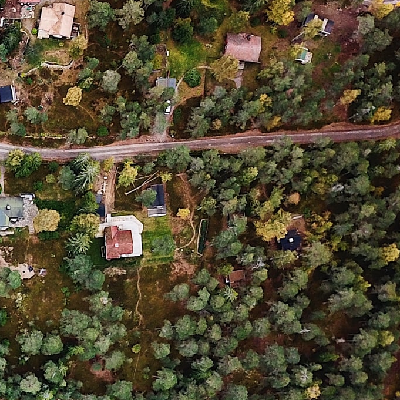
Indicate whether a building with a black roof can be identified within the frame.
Yes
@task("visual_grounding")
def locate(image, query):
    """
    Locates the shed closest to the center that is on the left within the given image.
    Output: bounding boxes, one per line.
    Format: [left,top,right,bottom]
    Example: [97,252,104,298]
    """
[147,184,165,216]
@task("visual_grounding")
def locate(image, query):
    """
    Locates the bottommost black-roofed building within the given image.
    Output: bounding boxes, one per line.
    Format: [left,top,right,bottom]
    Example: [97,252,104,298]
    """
[279,230,301,249]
